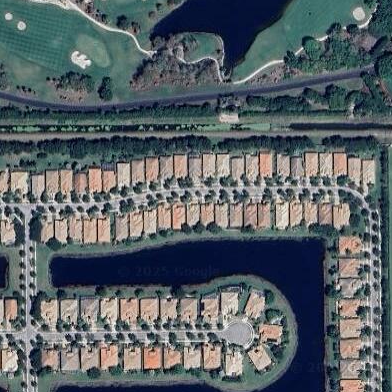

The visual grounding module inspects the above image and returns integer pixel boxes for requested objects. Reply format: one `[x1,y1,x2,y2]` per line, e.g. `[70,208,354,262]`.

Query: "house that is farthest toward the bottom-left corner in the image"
[2,350,18,372]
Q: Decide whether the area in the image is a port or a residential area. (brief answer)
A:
residential area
